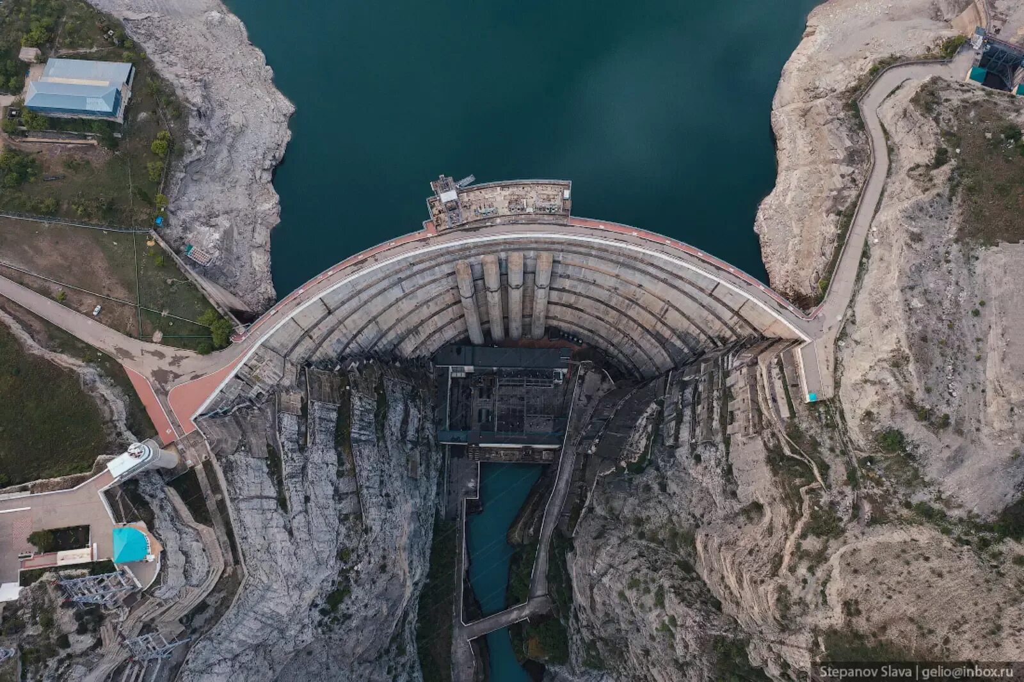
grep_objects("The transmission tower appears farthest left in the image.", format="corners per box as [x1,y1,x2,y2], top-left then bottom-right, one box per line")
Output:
[53,571,132,610]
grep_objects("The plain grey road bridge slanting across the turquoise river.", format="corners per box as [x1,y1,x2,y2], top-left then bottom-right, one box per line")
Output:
[466,602,552,641]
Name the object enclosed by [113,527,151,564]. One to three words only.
building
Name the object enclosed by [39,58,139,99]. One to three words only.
building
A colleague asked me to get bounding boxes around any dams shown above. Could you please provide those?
[243,218,822,383]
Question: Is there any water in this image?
Yes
